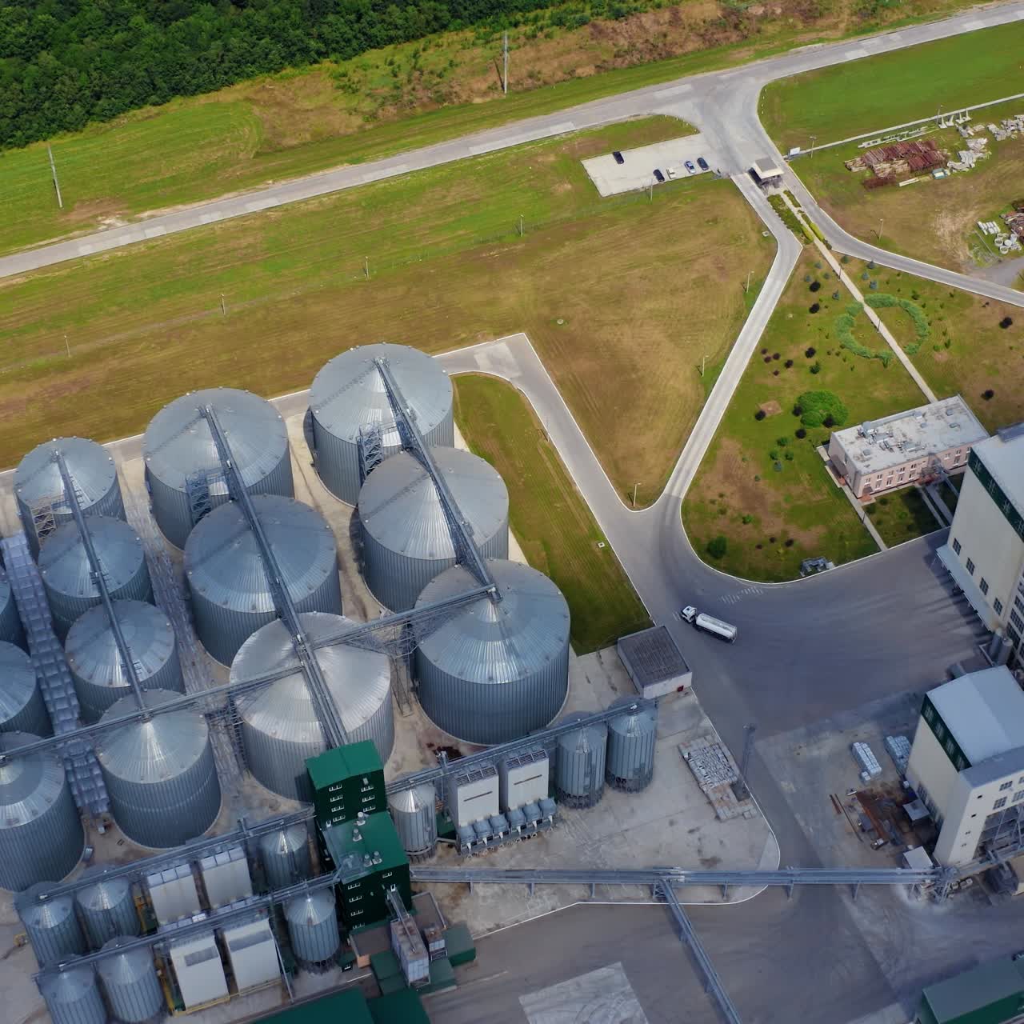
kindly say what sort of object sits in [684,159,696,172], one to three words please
vehicle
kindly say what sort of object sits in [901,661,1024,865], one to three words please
building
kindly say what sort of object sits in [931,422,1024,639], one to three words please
building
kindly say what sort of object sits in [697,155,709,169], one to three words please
vehicle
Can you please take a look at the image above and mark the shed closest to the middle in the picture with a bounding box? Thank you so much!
[618,623,690,697]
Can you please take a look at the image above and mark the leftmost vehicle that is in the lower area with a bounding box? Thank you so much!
[680,603,741,643]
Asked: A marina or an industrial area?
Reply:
industrial area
